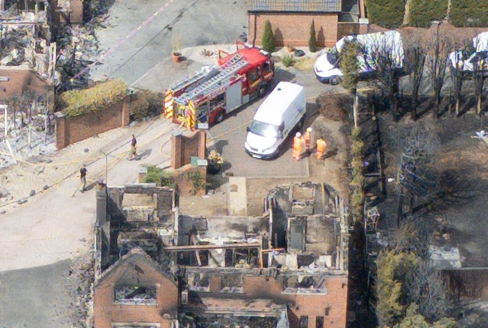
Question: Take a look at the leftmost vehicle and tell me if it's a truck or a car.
truck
